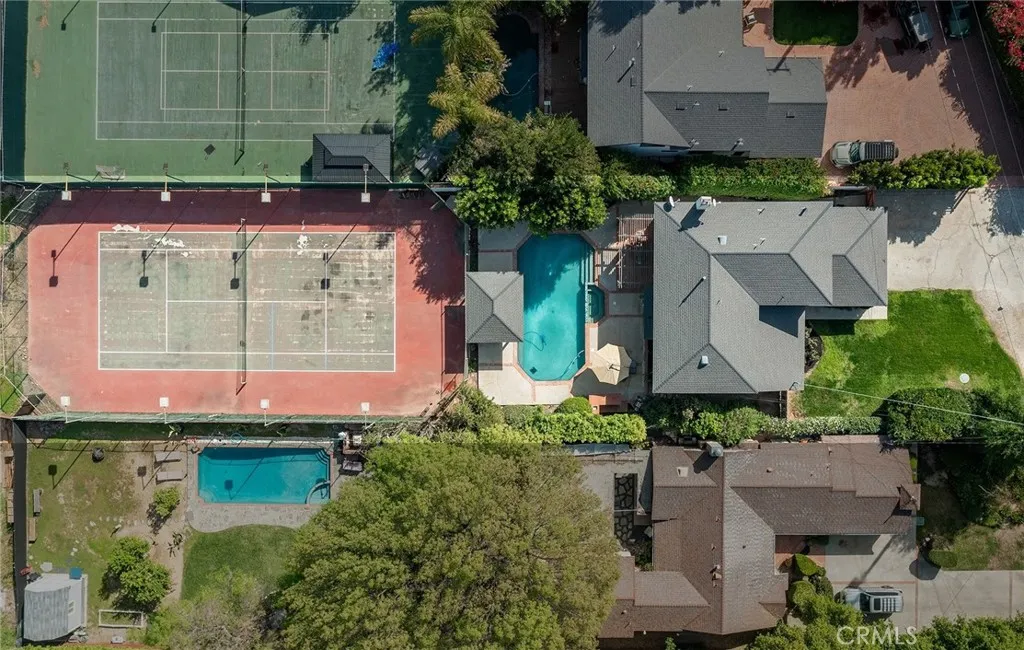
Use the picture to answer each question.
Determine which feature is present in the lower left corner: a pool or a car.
pool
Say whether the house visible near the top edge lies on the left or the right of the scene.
right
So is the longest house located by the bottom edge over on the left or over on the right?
right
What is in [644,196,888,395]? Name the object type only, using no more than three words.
house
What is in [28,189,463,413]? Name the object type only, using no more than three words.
tennis court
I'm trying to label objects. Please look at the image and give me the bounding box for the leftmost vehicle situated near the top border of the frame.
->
[885,0,927,47]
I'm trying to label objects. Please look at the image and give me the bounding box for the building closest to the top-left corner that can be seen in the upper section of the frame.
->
[312,133,392,184]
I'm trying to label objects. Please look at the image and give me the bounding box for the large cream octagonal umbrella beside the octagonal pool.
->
[588,342,640,385]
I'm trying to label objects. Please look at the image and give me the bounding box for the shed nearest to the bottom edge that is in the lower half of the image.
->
[24,574,88,640]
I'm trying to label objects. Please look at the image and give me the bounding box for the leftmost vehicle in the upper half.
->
[828,137,900,169]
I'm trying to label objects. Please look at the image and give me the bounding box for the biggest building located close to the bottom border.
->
[592,438,920,638]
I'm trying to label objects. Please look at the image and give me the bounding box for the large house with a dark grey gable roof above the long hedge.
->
[587,0,826,159]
